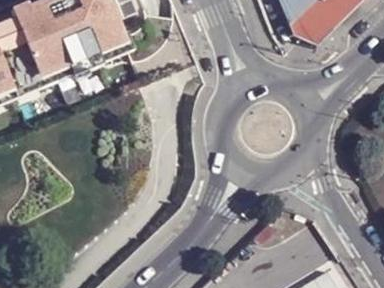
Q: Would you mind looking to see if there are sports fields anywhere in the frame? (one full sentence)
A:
No, there isn't any sports field down there.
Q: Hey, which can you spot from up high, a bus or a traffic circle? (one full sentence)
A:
Of the two, only a traffic circle appears.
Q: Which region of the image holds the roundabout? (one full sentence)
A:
The roundabout is located in the right region of the scene.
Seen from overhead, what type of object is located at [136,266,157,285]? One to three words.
car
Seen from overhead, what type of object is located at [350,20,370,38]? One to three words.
car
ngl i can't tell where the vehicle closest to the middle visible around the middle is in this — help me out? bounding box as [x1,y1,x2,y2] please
[212,152,224,174]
